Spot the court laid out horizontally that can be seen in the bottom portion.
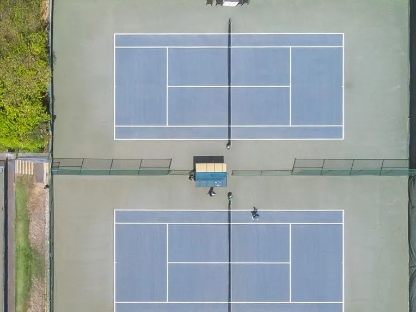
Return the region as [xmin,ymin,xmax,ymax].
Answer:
[52,175,409,312]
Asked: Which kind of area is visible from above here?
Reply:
sports ground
